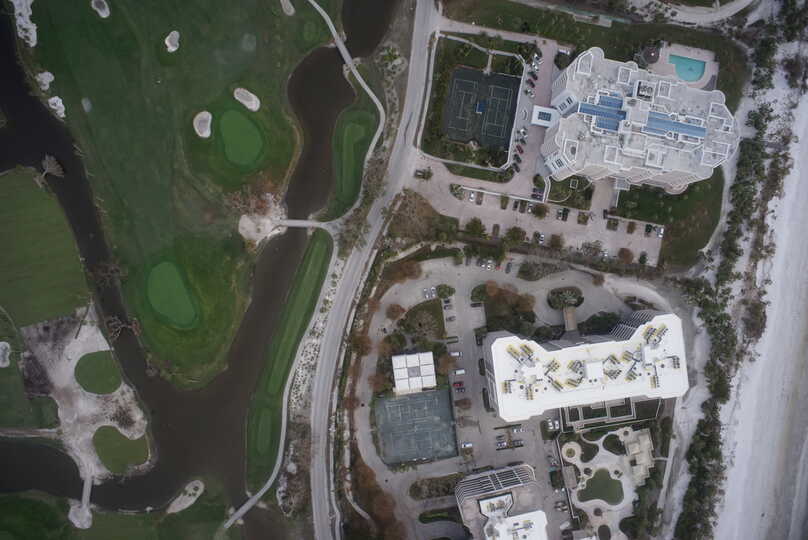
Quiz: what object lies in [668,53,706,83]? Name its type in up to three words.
swimming pool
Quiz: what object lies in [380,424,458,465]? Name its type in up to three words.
tennis court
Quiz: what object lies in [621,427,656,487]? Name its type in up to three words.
building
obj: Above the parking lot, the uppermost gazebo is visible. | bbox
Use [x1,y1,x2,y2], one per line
[642,47,659,64]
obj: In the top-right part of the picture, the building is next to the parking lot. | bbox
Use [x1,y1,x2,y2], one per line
[534,46,742,198]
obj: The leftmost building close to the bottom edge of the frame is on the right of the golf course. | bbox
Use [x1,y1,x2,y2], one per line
[458,466,547,540]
